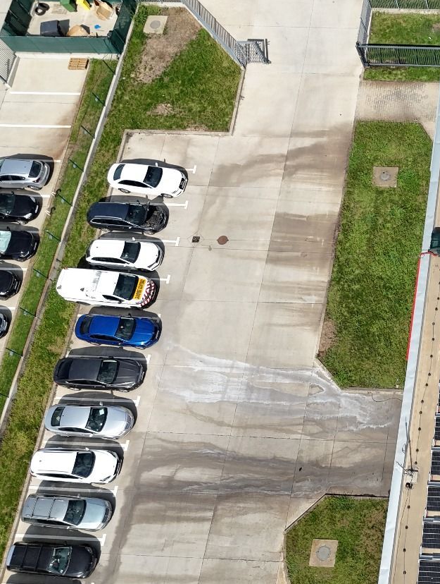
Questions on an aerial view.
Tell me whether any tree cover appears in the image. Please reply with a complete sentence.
No, the scene doesn't show any tree cover.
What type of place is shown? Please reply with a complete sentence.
It's a parking lot.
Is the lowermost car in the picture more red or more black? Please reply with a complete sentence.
In this view, the lowermost car is black.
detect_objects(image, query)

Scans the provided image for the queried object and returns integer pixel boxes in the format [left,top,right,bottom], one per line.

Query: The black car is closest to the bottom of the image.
[7,538,101,584]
